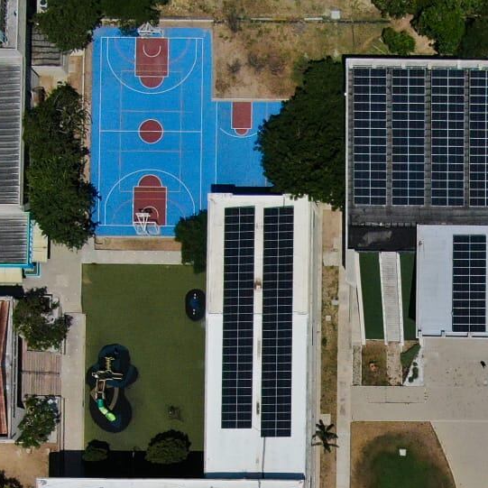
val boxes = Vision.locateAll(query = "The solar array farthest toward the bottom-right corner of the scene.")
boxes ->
[452,234,486,331]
